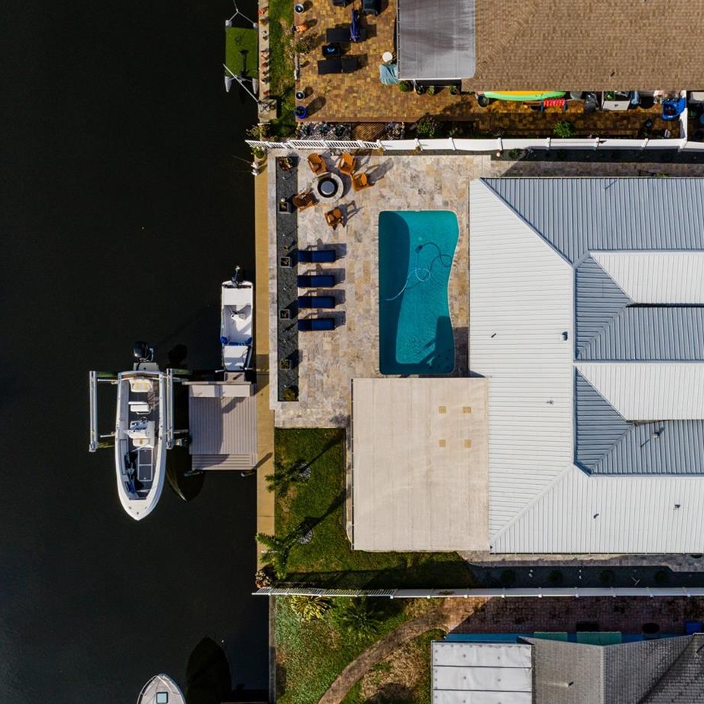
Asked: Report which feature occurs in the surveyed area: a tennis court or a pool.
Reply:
pool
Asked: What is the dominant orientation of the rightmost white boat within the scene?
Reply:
up and down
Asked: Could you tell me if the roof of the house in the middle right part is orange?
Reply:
No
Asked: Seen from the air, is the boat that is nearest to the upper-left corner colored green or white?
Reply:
green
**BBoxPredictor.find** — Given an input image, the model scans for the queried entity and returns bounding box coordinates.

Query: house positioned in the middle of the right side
[471,175,704,556]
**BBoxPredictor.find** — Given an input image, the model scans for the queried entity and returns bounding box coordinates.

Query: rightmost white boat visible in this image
[215,267,255,373]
